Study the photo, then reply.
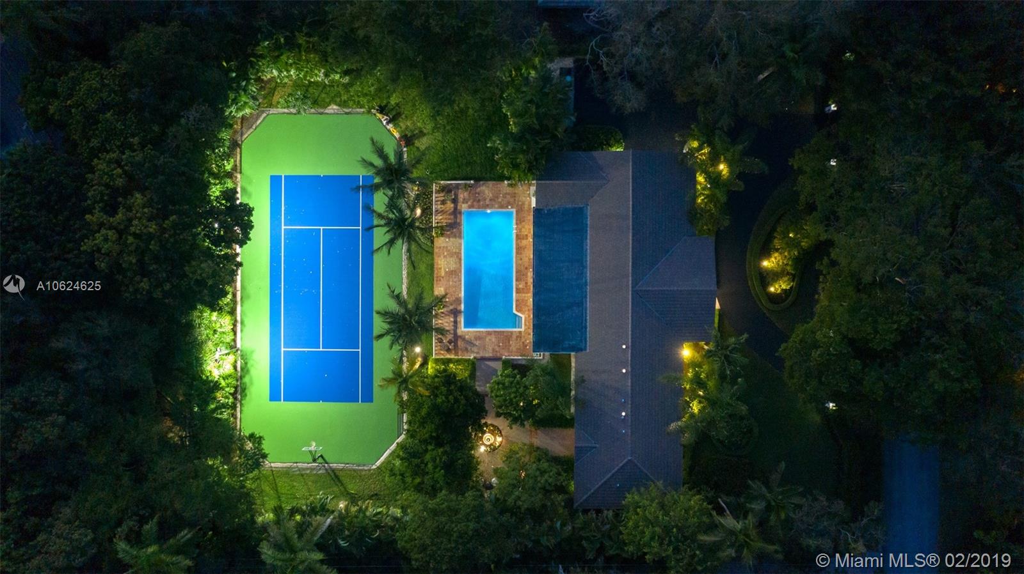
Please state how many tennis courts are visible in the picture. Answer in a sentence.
There is 1 tennis court in the image.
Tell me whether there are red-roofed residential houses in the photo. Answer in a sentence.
No, the scene contains no red-roofed residential house.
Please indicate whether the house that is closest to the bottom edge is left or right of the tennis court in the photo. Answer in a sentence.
Relative to the tennis court, the house that is closest to the bottom edge lies to the right.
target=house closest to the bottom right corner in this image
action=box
[535,149,719,510]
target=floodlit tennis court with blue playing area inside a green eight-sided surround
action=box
[235,108,408,471]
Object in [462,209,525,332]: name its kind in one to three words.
swimming pool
